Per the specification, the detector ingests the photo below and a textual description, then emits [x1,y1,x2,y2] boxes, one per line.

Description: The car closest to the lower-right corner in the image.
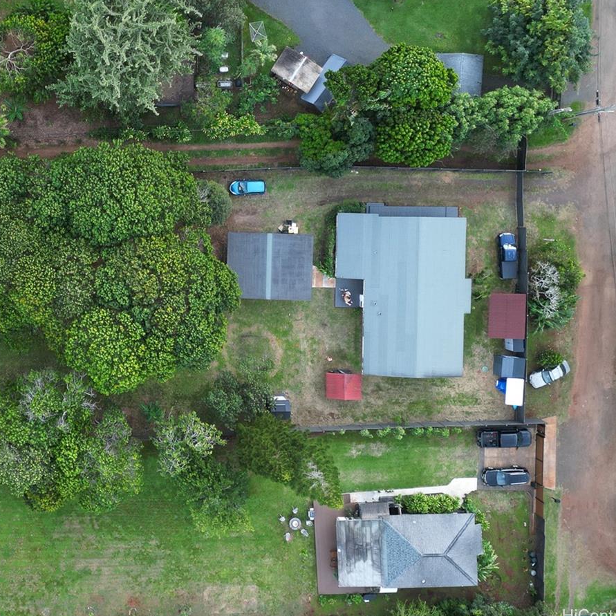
[480,466,530,488]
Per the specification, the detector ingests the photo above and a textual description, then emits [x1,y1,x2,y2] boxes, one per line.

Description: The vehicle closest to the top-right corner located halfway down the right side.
[495,232,520,281]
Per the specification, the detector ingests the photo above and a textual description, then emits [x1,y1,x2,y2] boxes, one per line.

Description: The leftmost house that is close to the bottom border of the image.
[336,497,483,593]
